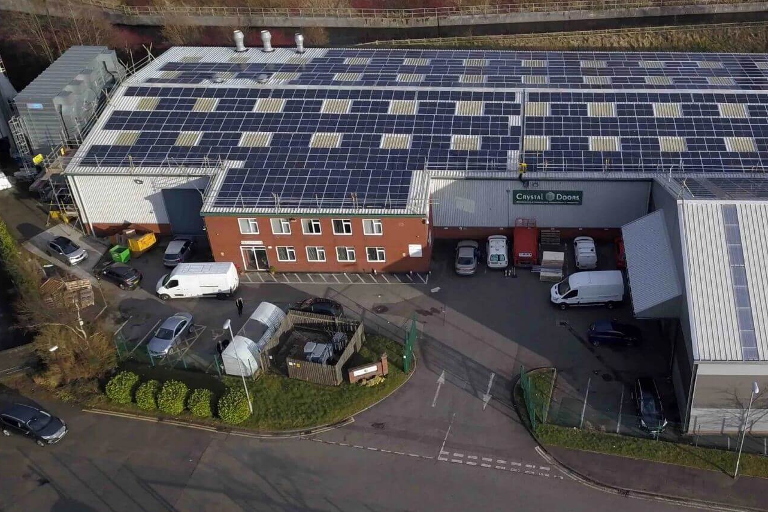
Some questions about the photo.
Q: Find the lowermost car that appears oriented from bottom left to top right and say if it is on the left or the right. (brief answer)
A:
left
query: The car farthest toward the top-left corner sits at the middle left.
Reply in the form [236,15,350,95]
[39,232,91,264]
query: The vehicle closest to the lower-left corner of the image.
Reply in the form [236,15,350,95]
[0,399,67,446]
